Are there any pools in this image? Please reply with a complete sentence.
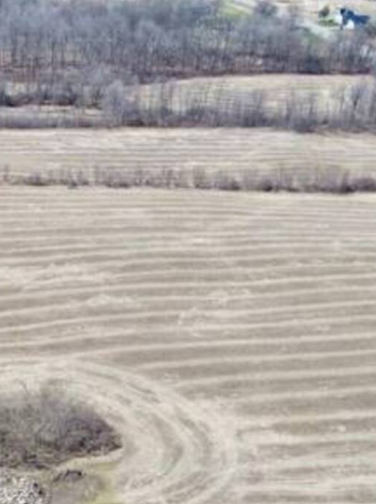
No, I can see no pool in this picture.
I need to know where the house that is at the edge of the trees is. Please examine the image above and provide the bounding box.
[340,10,376,29]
